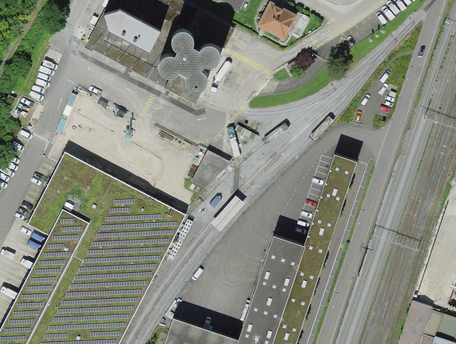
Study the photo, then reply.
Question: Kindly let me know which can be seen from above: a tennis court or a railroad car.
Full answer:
There is a railroad car in the scene.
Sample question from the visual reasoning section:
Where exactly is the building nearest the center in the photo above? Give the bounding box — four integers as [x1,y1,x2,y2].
[192,149,232,188]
